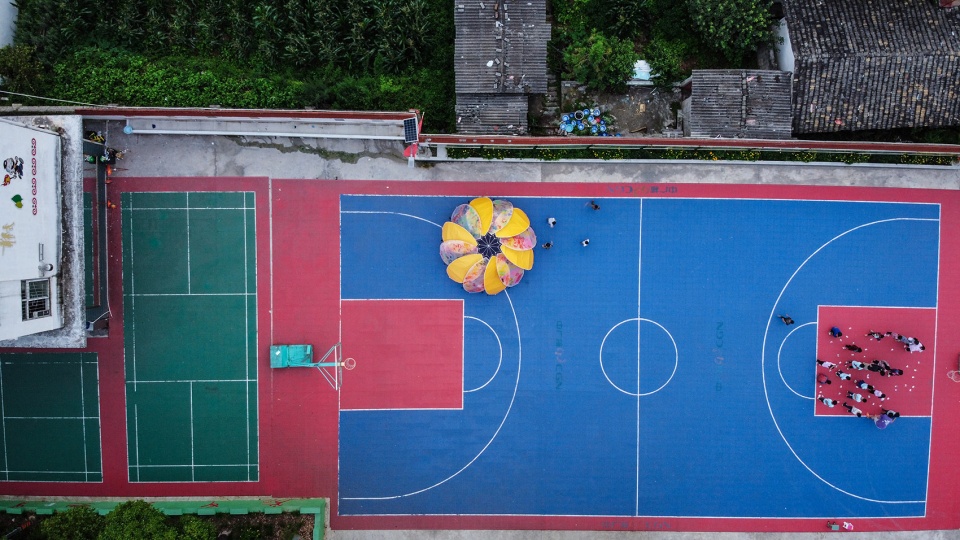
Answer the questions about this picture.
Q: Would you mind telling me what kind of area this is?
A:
sports ground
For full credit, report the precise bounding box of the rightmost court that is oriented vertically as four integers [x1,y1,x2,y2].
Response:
[121,191,259,483]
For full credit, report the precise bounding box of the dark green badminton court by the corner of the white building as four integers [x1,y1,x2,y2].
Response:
[0,352,103,483]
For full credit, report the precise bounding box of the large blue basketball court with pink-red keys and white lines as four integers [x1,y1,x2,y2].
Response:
[272,179,960,532]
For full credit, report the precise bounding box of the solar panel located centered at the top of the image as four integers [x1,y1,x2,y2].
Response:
[405,118,417,141]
